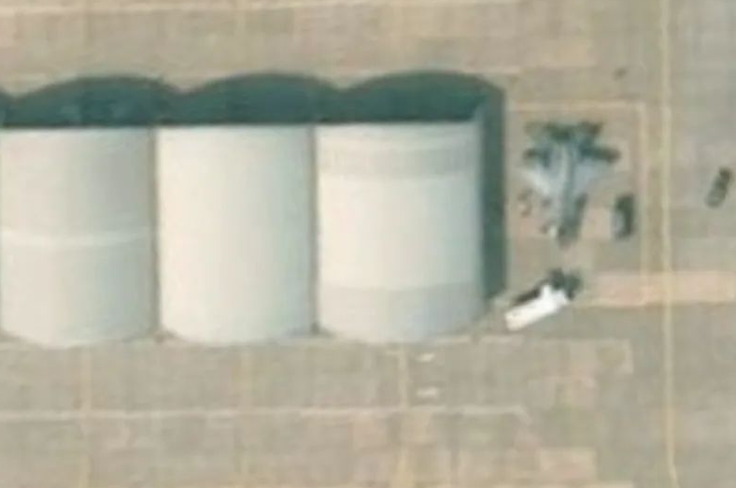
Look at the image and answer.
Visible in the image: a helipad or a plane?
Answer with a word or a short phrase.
plane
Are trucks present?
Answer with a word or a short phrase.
Yes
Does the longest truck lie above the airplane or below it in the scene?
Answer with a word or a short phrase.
below it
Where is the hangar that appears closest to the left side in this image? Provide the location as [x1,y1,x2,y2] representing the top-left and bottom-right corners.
[0,120,162,344]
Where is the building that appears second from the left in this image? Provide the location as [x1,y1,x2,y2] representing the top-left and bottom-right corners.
[157,119,319,342]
